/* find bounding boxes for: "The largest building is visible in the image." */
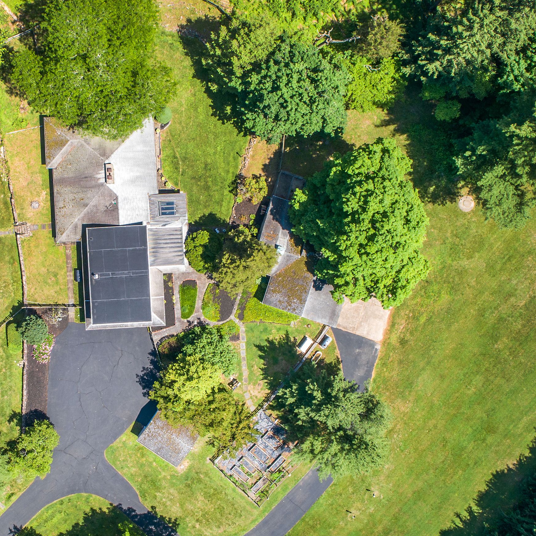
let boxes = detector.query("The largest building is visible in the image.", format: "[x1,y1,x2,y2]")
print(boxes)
[44,112,192,330]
